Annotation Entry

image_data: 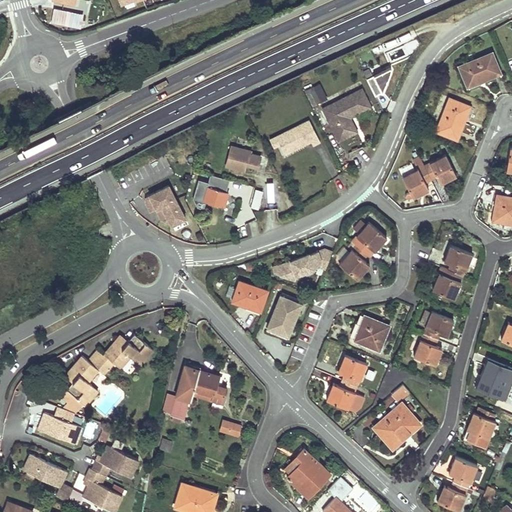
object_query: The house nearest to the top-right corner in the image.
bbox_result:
[458,52,504,90]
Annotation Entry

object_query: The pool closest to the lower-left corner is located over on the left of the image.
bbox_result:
[94,386,124,416]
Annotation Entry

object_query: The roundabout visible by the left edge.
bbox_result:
[14,38,64,88]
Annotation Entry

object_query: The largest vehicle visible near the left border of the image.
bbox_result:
[18,137,56,160]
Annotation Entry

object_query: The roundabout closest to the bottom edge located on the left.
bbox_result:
[108,231,182,305]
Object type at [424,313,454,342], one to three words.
house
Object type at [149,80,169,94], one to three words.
vehicle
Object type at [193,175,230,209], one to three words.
house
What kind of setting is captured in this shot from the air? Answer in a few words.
residential area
